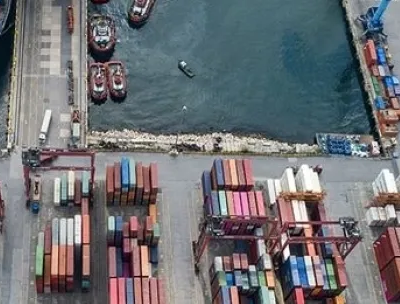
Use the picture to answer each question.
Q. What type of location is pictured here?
port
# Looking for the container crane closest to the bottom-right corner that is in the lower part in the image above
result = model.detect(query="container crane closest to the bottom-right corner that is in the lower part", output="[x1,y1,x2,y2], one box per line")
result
[269,219,364,268]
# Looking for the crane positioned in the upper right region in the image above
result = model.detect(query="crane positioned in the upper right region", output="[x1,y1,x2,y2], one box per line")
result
[354,0,393,45]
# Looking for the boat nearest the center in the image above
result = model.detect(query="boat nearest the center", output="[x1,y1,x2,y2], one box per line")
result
[177,57,195,76]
